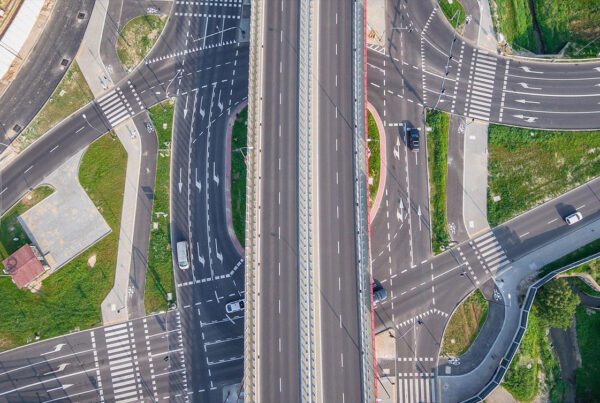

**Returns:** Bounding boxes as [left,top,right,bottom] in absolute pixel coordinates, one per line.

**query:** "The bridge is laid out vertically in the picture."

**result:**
[243,0,376,403]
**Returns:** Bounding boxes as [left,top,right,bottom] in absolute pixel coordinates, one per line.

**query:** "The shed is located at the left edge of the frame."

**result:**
[1,244,49,289]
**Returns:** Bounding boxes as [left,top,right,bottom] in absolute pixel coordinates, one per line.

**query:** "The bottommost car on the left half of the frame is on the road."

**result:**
[225,300,244,313]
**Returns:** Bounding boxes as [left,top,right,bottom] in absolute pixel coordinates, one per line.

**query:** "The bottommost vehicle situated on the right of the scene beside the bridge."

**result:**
[371,289,389,305]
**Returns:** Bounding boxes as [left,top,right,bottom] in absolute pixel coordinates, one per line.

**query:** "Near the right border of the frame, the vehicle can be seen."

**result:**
[561,211,582,226]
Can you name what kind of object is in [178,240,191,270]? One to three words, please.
vehicle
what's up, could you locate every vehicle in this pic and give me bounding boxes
[178,240,191,270]
[225,300,244,313]
[408,129,420,152]
[561,211,582,226]
[371,289,389,305]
